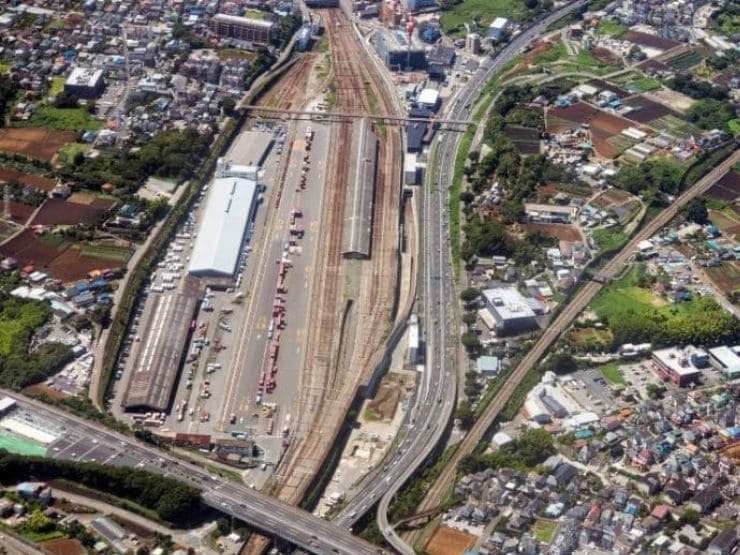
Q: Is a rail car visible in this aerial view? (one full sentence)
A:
No, no rail car is visible in the scene.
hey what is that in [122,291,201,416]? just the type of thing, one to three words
shed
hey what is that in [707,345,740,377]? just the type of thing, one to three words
building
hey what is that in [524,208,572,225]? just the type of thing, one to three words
building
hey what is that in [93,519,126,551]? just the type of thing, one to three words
shed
